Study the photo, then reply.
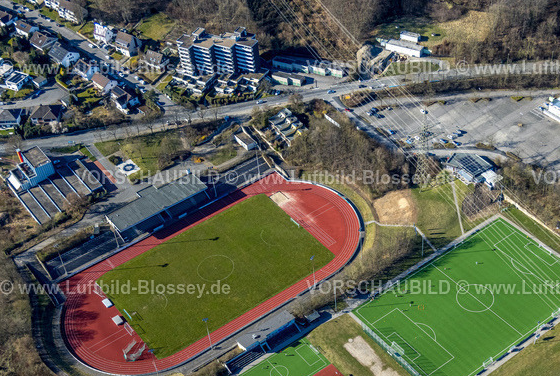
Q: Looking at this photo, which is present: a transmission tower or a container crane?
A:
transmission tower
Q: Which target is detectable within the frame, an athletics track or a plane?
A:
athletics track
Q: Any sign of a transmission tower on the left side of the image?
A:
No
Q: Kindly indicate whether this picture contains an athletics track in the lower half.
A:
Yes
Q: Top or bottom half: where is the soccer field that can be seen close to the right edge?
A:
bottom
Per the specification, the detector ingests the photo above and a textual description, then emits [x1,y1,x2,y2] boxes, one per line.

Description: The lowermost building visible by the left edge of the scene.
[0,142,104,228]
